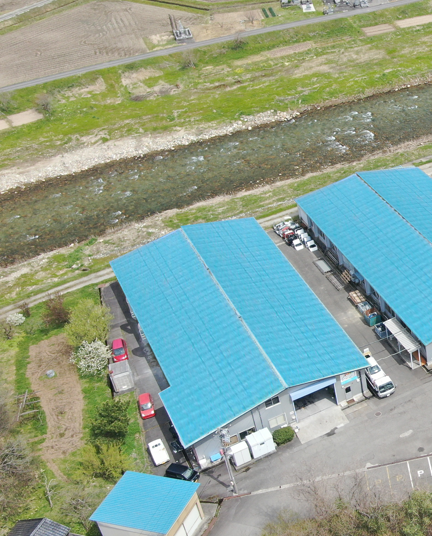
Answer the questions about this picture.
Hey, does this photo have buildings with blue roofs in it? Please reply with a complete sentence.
Yes, a building with a blue roof appears in the view.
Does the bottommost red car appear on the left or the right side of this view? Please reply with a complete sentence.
The bottommost red car sits on the left side.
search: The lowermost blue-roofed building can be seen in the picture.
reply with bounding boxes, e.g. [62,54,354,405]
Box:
[87,473,198,536]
